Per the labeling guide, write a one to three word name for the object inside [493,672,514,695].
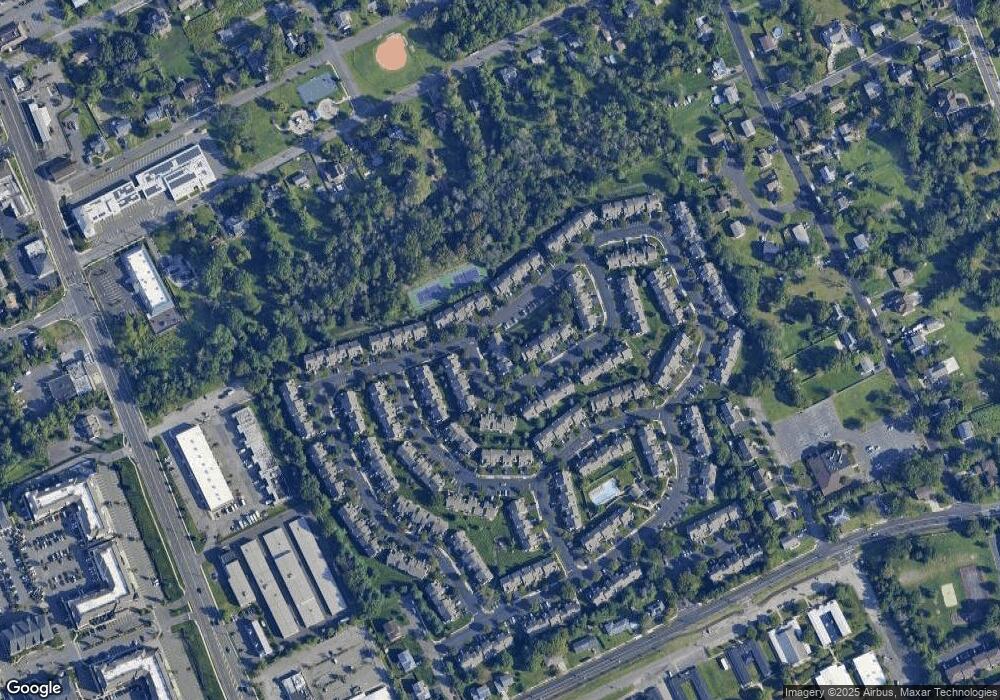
house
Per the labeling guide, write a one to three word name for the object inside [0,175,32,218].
building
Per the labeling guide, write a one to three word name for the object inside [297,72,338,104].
basketball court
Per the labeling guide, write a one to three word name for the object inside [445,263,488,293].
tennis court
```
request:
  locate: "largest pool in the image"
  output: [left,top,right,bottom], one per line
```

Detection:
[589,477,622,507]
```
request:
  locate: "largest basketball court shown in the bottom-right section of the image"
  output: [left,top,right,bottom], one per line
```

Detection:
[960,565,989,599]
